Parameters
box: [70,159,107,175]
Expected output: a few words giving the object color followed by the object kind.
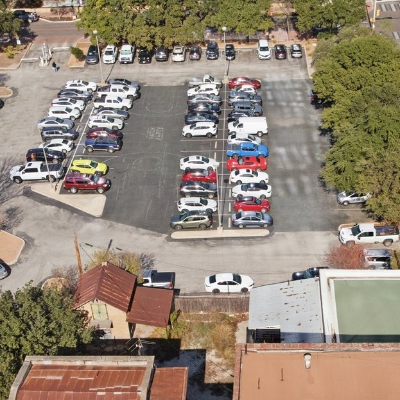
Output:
yellow car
